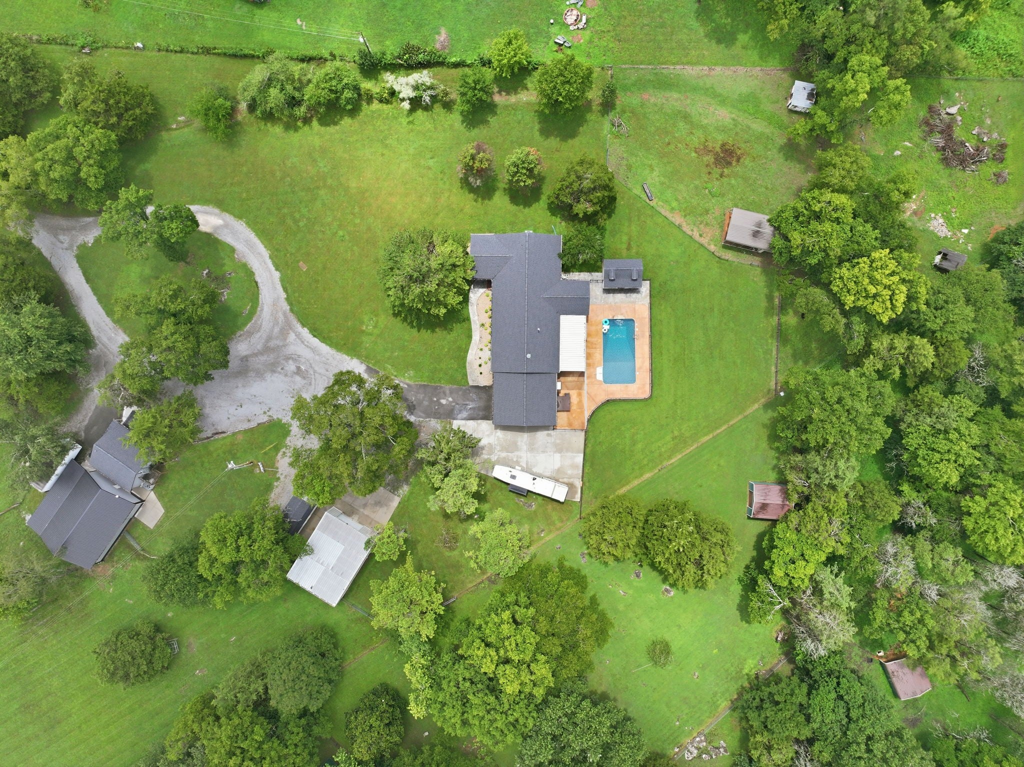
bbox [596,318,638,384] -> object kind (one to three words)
swimming pool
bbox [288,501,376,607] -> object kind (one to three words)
building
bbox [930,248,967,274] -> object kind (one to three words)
shed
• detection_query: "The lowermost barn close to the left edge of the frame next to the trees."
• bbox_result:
[27,459,143,571]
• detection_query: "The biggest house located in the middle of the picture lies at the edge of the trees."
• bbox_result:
[471,230,590,426]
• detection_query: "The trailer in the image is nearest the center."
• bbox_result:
[492,463,568,502]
